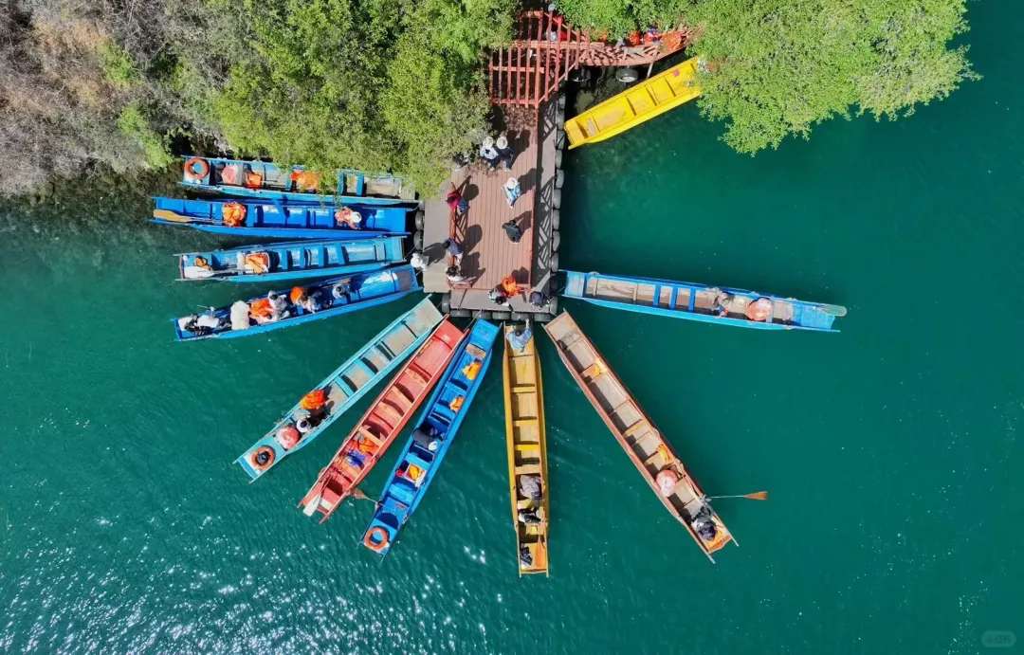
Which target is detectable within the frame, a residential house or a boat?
boat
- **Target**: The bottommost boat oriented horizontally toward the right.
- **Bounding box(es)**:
[559,269,837,331]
